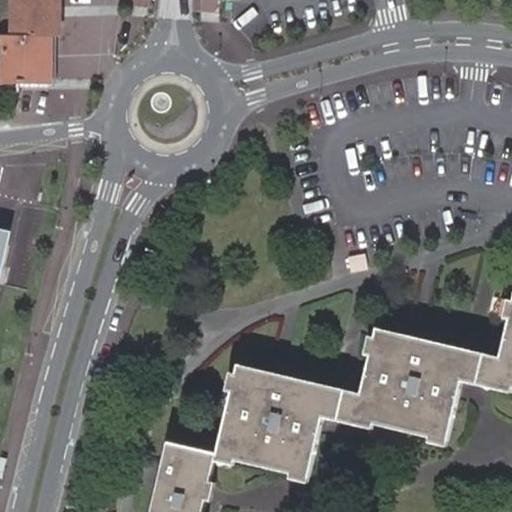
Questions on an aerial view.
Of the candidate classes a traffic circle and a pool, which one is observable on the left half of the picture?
traffic circle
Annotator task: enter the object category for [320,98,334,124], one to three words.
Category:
vehicle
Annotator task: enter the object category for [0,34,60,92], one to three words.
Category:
house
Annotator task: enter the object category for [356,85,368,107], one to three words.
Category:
vehicle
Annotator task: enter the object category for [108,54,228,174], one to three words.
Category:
roundabout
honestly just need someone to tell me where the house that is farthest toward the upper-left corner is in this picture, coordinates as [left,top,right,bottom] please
[8,0,62,34]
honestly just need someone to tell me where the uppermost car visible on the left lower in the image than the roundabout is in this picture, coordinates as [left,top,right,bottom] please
[112,238,127,262]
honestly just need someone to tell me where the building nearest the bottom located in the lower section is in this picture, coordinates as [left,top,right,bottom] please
[149,442,215,512]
